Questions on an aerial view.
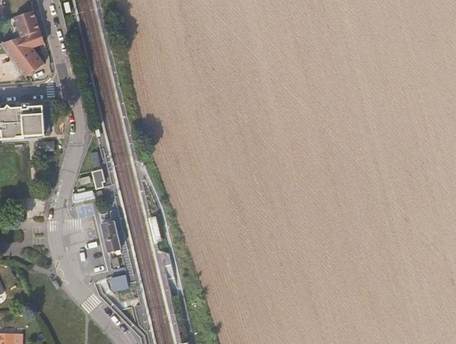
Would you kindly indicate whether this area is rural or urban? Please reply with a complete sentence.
The area shown here is rural.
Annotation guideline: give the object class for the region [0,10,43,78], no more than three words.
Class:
house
